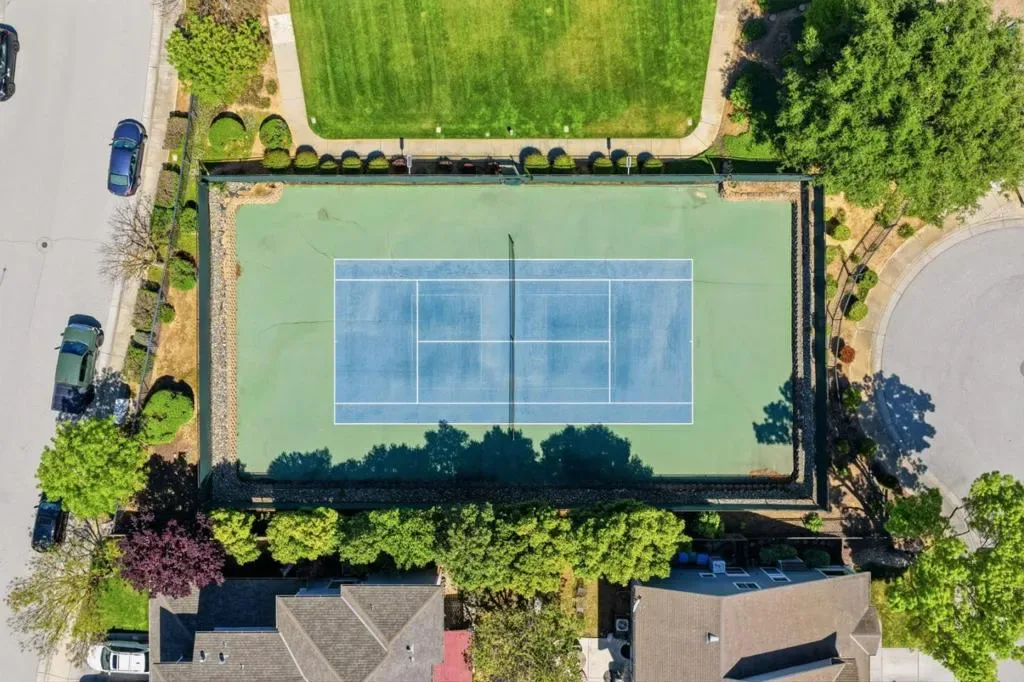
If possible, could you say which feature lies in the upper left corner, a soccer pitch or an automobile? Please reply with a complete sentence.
What appears in the upper left corner is an automobile.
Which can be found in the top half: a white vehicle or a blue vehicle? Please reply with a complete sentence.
What appears in the top half is a blue vehicle.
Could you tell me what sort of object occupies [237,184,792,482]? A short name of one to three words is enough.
tennis court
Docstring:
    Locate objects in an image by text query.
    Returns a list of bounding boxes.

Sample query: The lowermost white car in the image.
[88,638,149,677]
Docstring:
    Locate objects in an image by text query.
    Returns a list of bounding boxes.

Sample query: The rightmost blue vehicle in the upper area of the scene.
[107,122,147,198]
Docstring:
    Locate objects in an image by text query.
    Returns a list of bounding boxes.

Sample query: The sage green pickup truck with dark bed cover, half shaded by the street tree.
[54,320,104,418]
